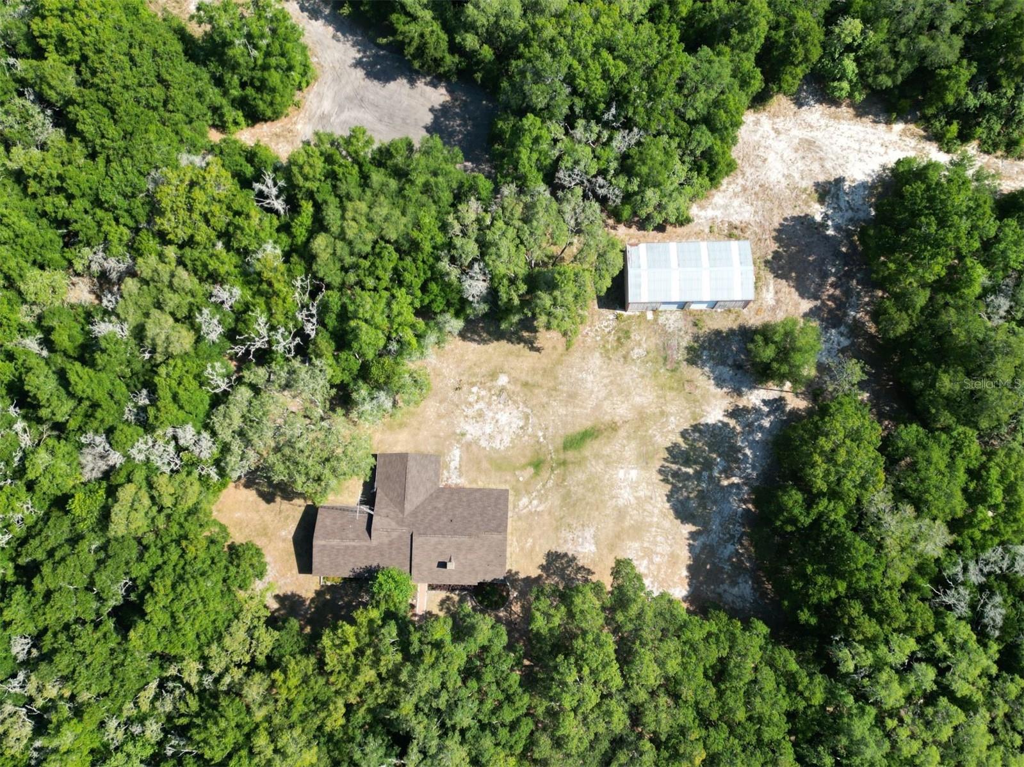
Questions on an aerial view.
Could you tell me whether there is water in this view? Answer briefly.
No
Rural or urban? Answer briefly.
rural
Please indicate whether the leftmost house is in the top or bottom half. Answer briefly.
bottom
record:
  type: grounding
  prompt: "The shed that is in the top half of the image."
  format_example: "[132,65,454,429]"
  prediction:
[623,241,756,313]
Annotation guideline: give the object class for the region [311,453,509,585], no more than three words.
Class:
house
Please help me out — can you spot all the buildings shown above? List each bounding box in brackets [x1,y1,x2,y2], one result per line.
[623,241,756,313]
[311,453,509,585]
